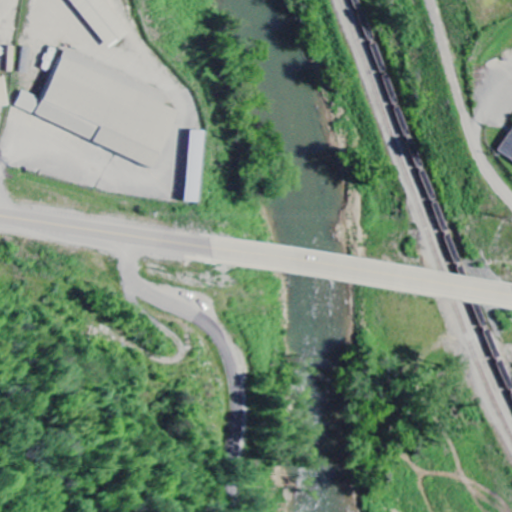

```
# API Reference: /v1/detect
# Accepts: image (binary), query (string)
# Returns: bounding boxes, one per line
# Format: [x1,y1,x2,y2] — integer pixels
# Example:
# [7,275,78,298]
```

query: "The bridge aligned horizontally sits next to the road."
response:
[208,238,512,312]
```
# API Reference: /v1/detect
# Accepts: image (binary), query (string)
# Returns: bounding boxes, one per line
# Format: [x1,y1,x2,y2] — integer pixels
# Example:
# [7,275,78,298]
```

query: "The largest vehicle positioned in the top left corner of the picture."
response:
[42,46,56,70]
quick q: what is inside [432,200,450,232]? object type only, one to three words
rail car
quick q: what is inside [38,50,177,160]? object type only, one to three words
building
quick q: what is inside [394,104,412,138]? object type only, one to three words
rail car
